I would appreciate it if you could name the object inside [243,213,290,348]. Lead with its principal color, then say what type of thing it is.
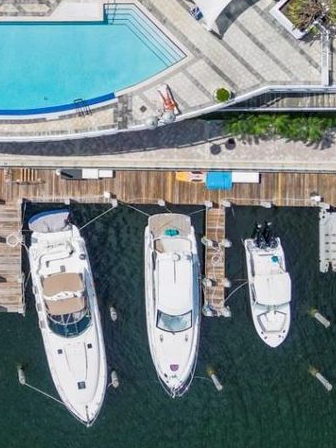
white boat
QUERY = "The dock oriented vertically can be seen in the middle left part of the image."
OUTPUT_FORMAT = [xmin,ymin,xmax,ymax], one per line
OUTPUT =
[0,203,22,312]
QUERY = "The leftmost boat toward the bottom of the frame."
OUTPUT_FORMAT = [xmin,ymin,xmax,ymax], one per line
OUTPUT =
[26,206,106,431]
